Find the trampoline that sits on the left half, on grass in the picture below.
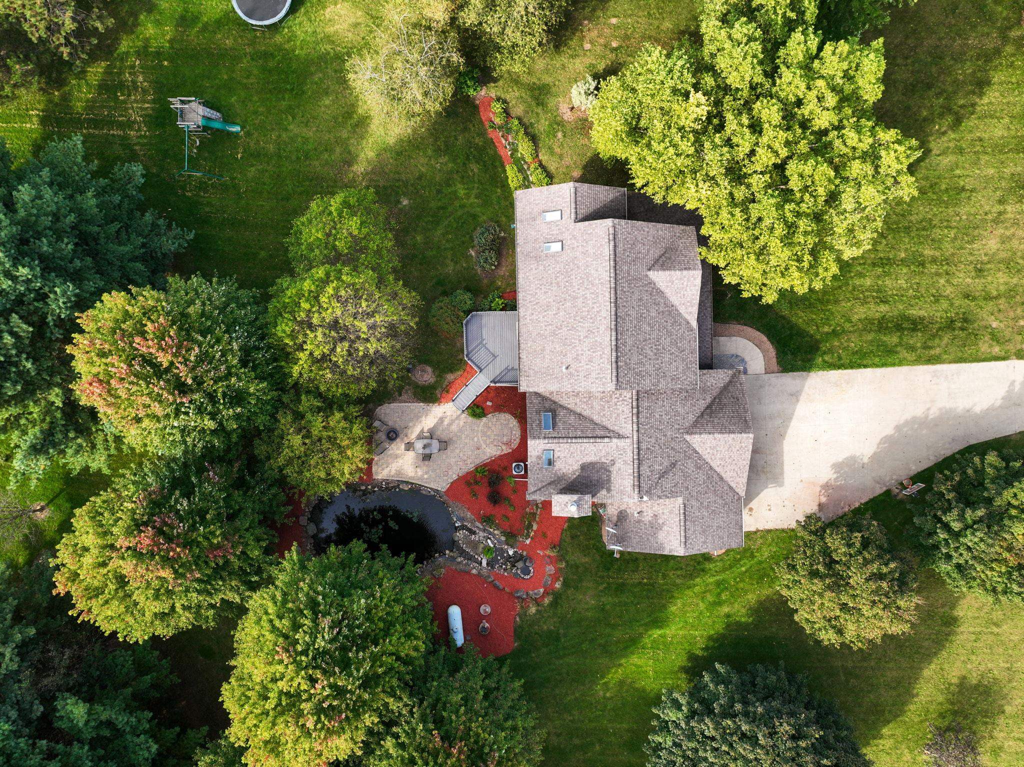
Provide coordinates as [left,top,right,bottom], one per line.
[231,0,296,31]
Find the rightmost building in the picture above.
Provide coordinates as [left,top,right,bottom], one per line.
[513,183,753,556]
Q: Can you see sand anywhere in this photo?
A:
No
